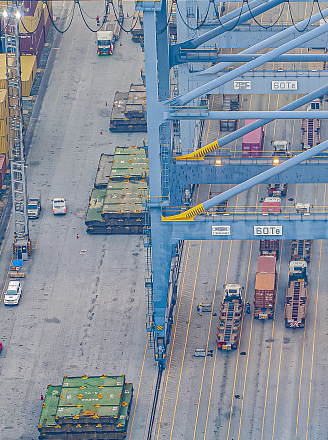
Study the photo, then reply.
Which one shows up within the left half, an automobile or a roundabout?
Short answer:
automobile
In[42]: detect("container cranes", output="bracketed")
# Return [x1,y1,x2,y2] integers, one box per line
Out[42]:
[0,0,328,373]
[173,0,328,200]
